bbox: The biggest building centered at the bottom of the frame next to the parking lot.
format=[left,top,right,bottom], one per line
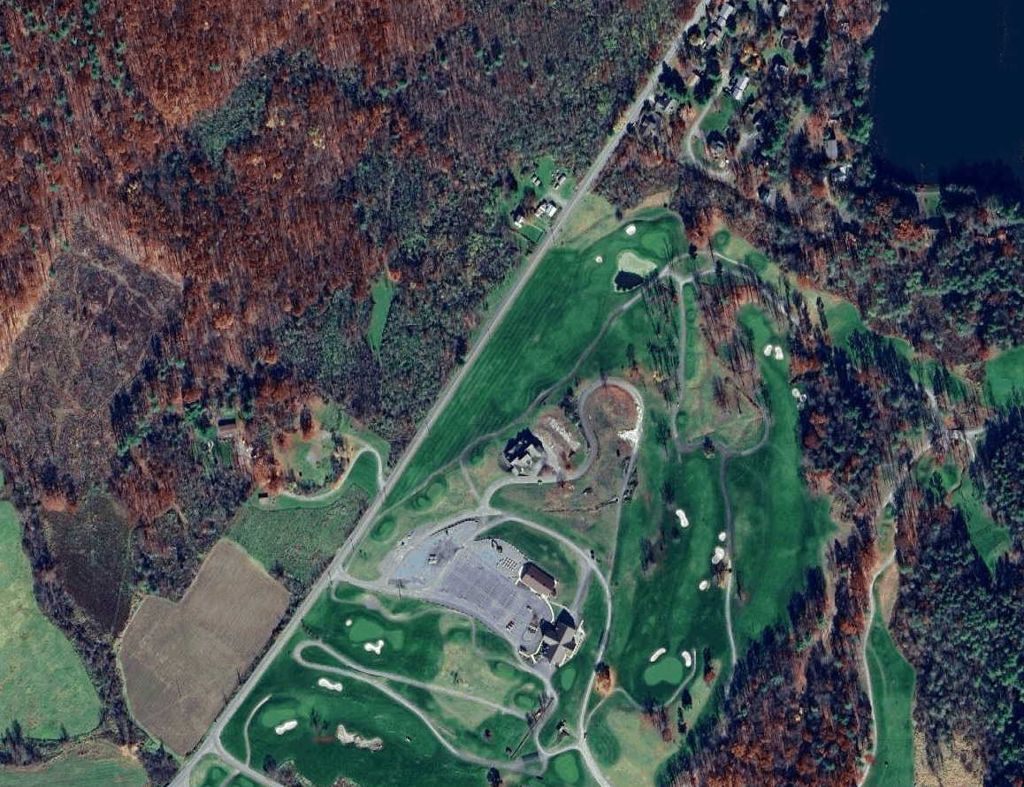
[541,621,577,668]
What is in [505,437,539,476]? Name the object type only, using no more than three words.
house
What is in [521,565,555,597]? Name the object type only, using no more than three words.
barn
